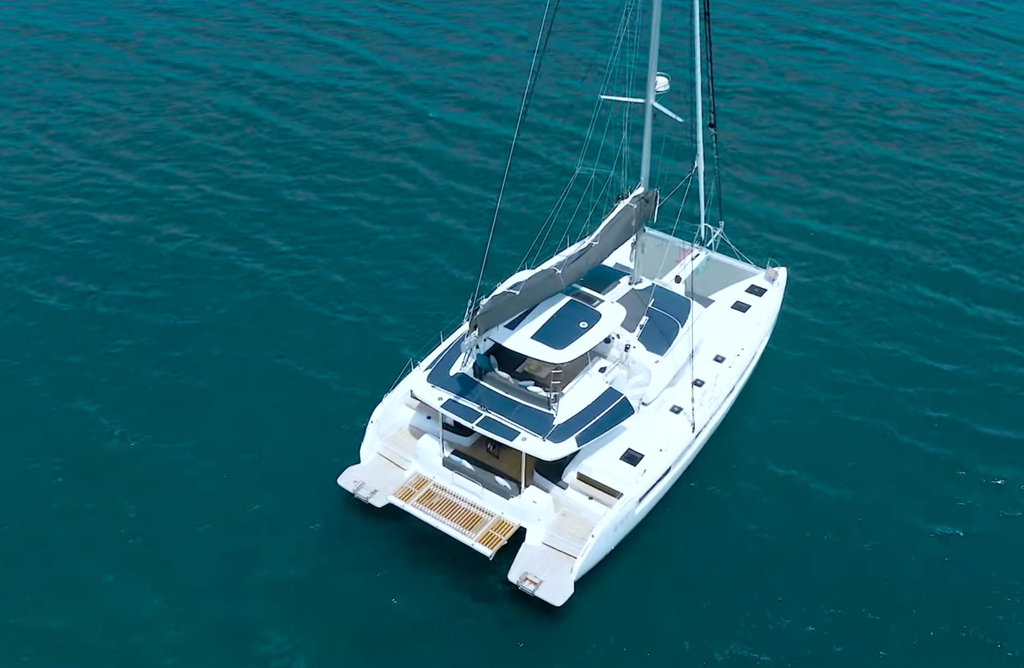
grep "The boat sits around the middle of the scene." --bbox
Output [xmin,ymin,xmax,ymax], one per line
[340,0,786,608]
